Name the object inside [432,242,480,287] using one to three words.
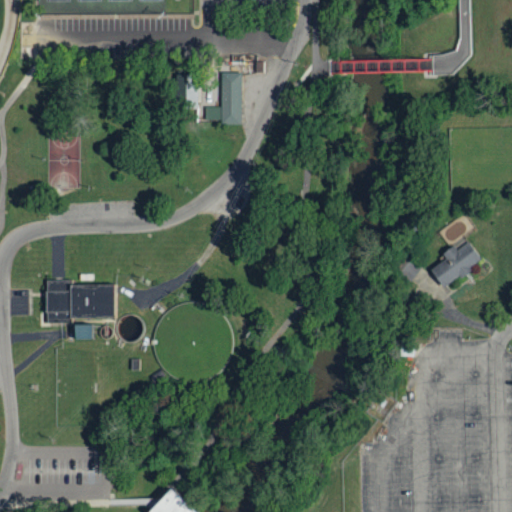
house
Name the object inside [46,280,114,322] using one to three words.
building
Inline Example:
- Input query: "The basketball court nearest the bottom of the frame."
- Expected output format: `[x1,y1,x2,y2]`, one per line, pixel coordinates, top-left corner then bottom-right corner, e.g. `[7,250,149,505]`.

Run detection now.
[50,135,80,194]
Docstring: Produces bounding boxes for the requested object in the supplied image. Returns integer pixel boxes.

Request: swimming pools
[440,216,472,245]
